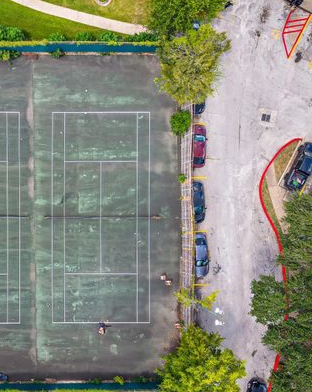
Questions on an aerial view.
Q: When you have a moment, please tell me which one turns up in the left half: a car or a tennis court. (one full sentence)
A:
It is a tennis court that can be seen in the left half.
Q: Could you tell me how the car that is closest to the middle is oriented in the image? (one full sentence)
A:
In this picture, the car that is closest to the middle lies vertically.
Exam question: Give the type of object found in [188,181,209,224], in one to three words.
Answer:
car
